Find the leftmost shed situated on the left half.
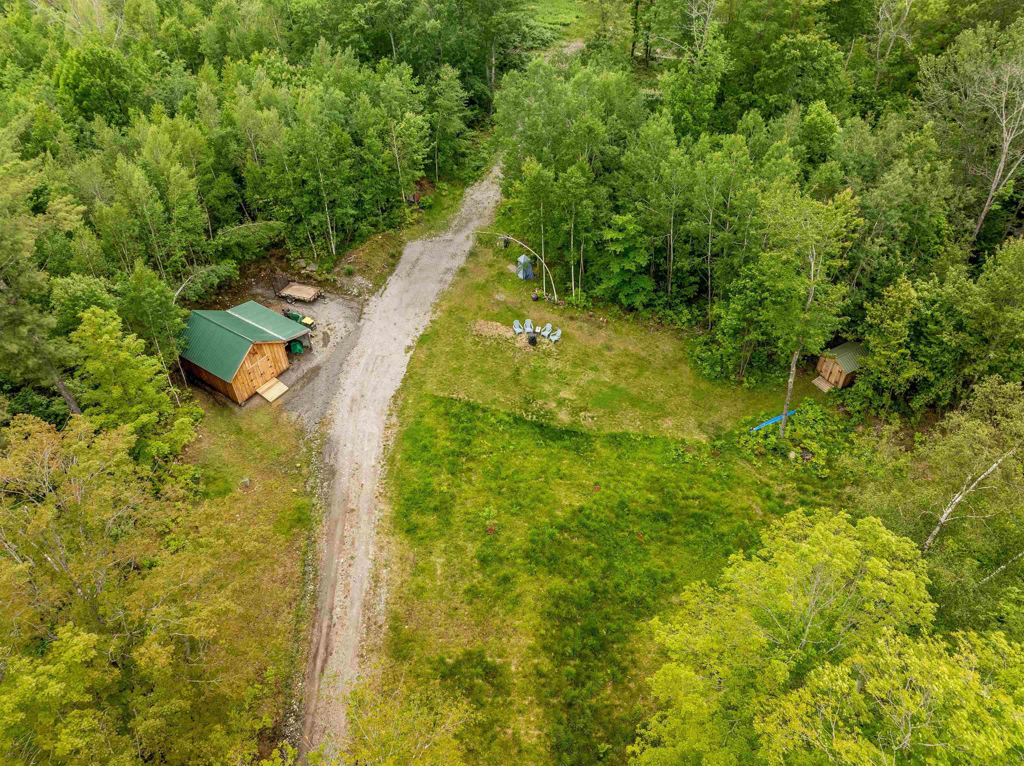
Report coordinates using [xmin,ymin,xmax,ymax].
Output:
[167,301,307,404]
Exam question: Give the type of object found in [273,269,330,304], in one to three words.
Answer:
trailer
